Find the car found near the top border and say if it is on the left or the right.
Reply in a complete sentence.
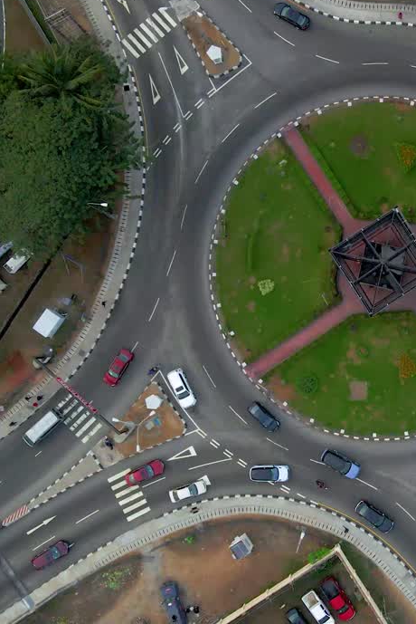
You can find the car found near the top border on the right side of the picture.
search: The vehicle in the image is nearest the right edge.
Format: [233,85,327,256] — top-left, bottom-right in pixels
[353,499,396,532]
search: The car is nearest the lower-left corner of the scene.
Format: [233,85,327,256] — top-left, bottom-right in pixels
[28,539,71,572]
